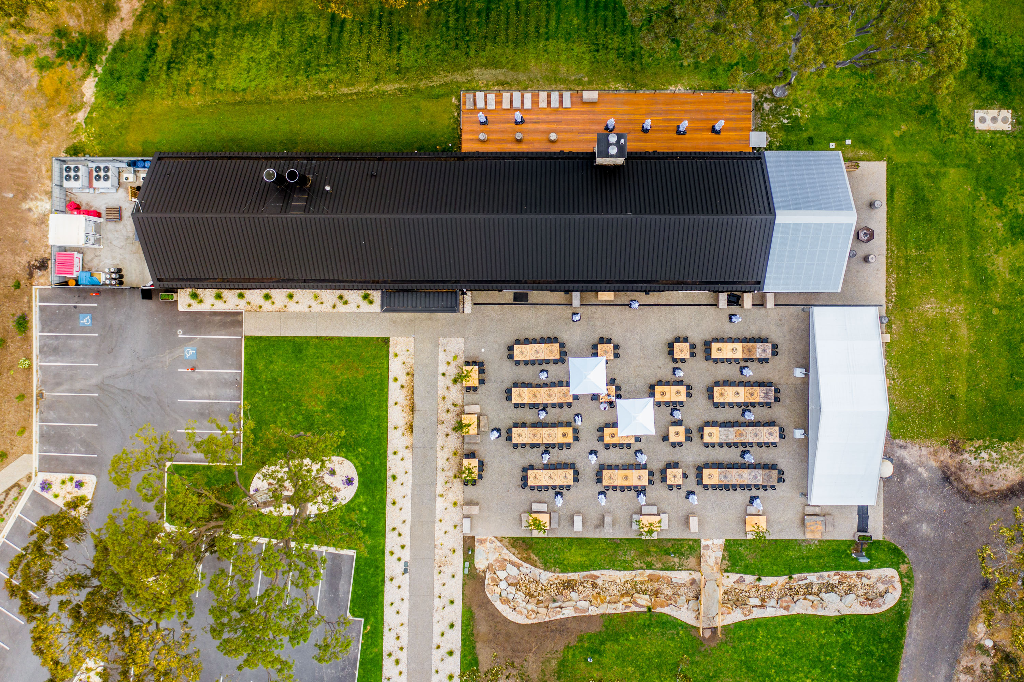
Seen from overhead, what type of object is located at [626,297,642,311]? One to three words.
umbrella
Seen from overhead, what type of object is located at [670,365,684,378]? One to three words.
umbrella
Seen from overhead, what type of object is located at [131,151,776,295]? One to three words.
building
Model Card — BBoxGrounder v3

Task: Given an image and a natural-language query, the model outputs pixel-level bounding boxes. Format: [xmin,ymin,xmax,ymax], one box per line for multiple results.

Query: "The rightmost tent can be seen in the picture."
[798,305,889,506]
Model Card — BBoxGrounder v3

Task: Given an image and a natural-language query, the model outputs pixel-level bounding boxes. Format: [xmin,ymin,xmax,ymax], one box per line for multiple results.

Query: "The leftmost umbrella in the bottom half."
[489,425,504,440]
